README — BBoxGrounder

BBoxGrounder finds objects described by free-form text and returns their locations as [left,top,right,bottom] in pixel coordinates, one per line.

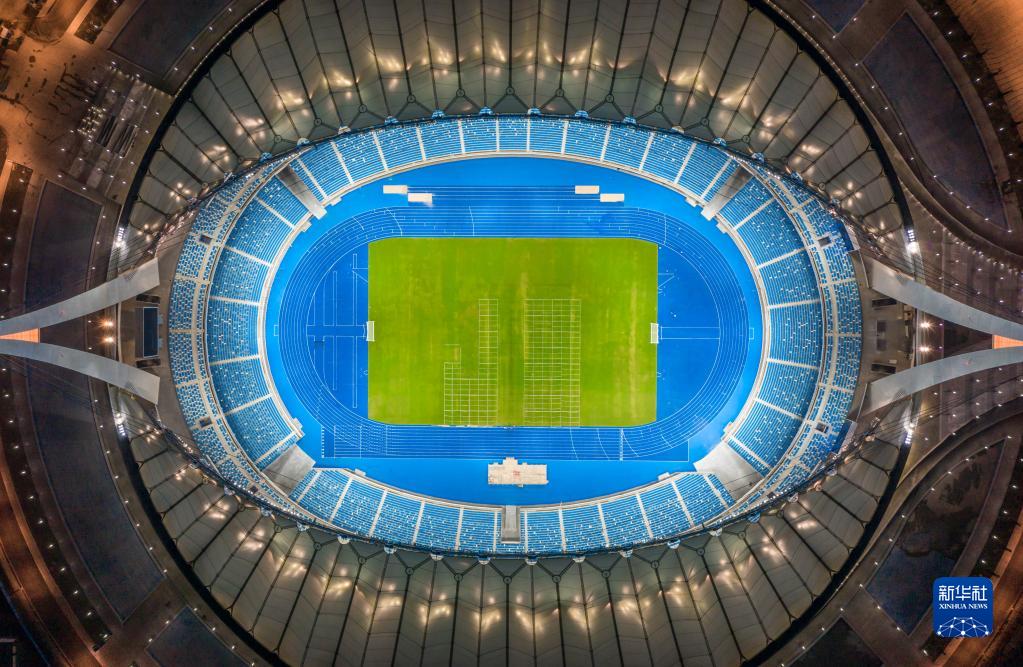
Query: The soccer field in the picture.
[369,238,657,426]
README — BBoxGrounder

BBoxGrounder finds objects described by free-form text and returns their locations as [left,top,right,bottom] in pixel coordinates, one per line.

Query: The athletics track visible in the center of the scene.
[267,158,762,505]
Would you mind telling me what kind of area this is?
sports ground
